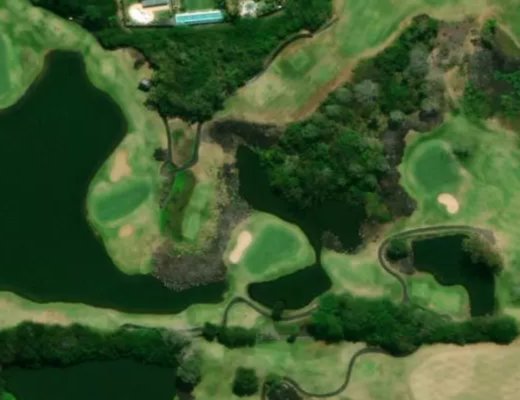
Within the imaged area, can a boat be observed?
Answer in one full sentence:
No, I can't see a single boat in this photo.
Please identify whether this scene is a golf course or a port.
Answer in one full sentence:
The area seen from above is a golf course.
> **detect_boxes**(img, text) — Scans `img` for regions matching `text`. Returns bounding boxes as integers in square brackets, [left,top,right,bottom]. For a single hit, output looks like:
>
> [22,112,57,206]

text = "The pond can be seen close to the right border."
[411,234,496,323]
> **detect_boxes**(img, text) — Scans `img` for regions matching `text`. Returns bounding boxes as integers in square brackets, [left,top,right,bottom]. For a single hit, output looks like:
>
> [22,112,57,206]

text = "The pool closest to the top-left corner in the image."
[176,9,223,25]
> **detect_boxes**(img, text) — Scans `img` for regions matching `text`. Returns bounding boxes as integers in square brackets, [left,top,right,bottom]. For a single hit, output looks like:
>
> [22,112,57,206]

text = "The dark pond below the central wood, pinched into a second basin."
[236,144,370,310]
